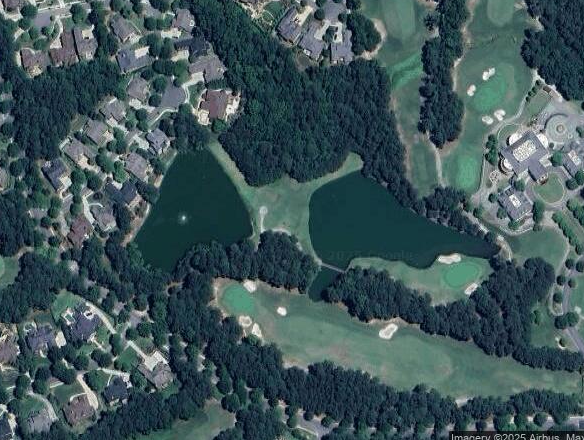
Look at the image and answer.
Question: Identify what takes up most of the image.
trees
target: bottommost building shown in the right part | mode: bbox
[497,185,532,220]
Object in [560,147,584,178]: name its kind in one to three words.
building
